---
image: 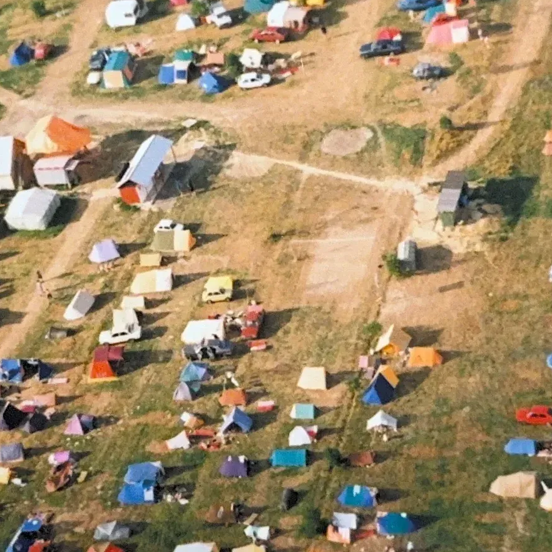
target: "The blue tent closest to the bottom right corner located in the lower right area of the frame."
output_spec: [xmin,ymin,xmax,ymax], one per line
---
[503,437,536,458]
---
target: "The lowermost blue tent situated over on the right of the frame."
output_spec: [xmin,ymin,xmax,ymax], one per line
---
[374,511,422,536]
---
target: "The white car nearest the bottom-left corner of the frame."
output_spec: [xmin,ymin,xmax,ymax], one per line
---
[98,322,142,345]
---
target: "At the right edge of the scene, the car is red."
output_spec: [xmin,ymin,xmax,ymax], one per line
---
[516,409,552,428]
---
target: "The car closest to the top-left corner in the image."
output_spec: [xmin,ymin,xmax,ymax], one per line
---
[36,33,55,61]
